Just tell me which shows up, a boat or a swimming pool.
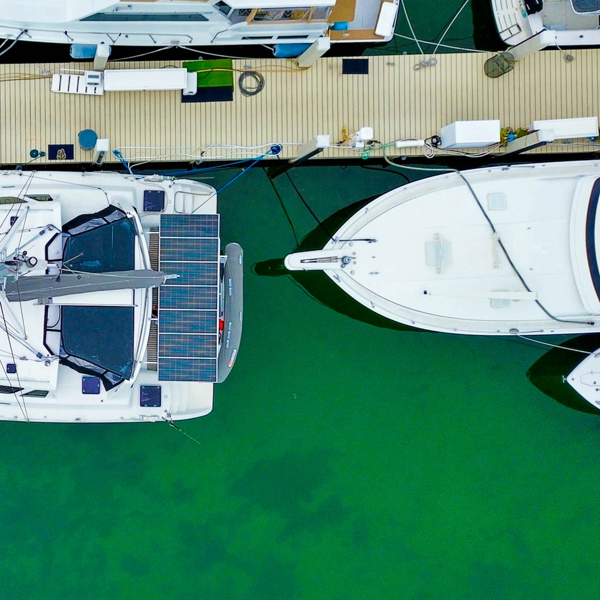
boat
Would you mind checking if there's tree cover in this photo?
No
